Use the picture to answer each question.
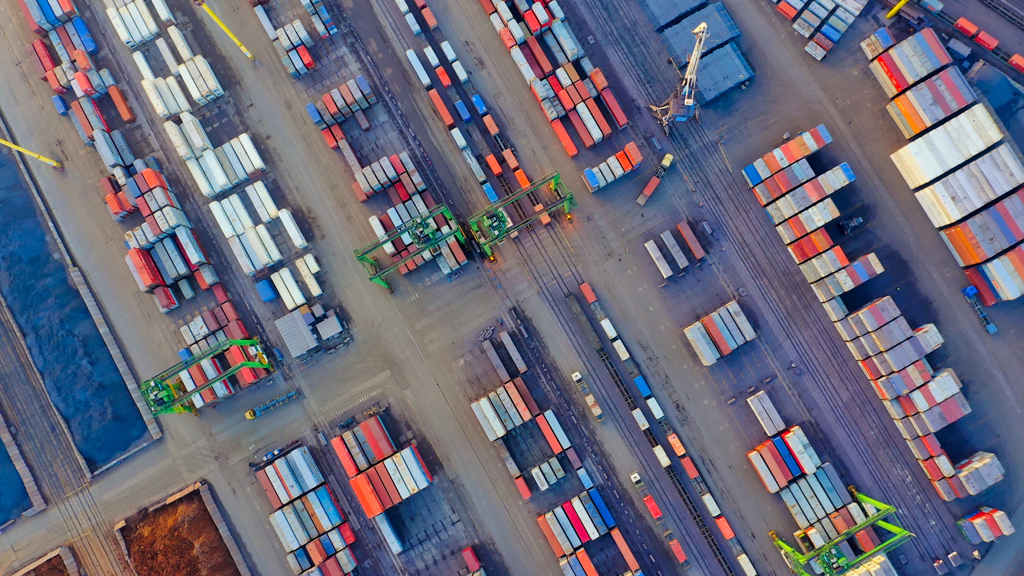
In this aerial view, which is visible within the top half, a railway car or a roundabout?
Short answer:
railway car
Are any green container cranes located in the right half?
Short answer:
Yes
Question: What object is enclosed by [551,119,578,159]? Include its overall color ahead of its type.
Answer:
red shipping container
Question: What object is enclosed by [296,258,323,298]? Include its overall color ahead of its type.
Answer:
white shipping container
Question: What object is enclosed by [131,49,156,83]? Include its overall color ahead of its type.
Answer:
white shipping container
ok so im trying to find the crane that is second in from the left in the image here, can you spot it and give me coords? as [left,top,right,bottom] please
[353,199,473,296]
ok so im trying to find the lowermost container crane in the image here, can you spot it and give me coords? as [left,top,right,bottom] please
[771,483,914,576]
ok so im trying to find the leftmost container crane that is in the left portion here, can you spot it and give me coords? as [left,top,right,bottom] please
[137,330,278,419]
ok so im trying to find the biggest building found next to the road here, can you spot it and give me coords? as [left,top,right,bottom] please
[275,309,320,358]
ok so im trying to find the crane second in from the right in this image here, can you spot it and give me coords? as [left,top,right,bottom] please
[644,21,710,140]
